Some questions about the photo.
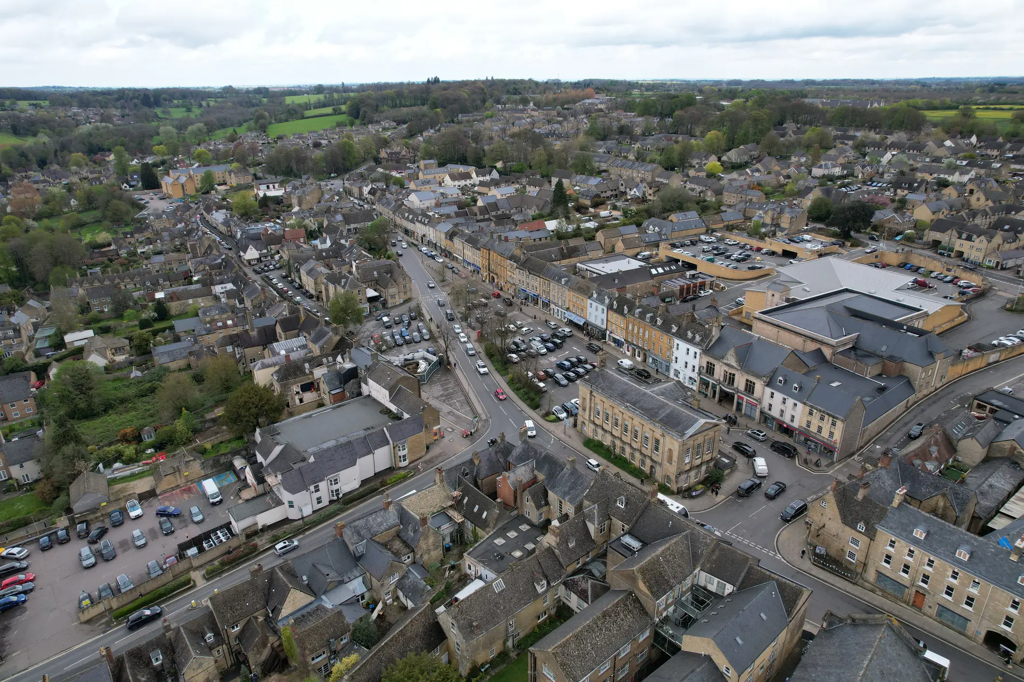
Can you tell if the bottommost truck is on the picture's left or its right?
right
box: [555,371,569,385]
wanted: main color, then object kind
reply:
gray car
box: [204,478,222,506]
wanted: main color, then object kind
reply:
white vehicle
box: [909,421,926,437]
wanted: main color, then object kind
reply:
gray car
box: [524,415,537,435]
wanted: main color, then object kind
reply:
white vehicle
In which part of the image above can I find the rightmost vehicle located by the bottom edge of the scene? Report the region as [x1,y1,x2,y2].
[914,646,966,682]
